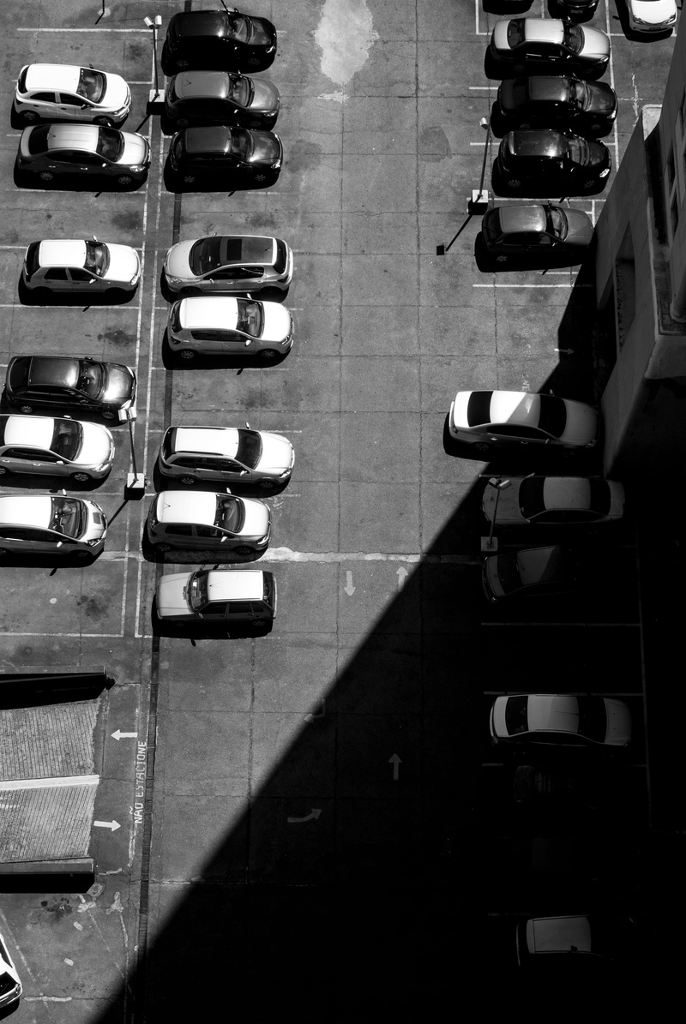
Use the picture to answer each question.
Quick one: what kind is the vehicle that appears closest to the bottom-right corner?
car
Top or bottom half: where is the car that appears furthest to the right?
top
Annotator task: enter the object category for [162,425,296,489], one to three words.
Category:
car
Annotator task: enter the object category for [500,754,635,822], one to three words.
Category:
car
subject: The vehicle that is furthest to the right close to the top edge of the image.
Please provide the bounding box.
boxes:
[626,0,677,29]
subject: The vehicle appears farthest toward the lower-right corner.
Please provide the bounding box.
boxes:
[516,911,652,981]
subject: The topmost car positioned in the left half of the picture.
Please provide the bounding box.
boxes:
[166,0,278,68]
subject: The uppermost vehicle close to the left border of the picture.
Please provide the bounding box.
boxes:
[16,64,133,125]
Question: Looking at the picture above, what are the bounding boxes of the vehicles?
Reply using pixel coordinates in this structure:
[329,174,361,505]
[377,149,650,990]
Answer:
[516,911,652,981]
[0,492,109,558]
[24,237,143,298]
[165,233,293,298]
[8,354,138,419]
[491,16,610,75]
[626,0,677,29]
[149,490,272,554]
[480,196,592,259]
[170,123,283,183]
[449,390,601,460]
[19,124,153,185]
[166,0,278,68]
[485,469,625,536]
[170,294,293,359]
[500,754,635,822]
[16,64,133,125]
[166,68,281,129]
[155,565,278,628]
[162,425,296,489]
[0,907,23,1012]
[490,692,631,759]
[500,72,617,132]
[0,415,116,481]
[475,544,601,612]
[498,129,611,189]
